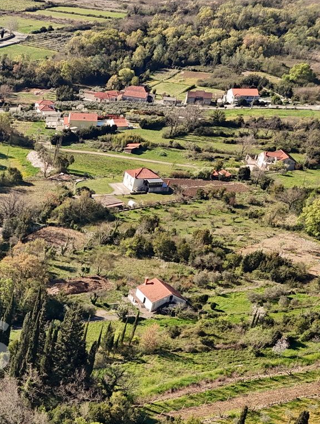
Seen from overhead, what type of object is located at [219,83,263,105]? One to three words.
house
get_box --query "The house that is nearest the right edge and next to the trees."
[254,148,301,170]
